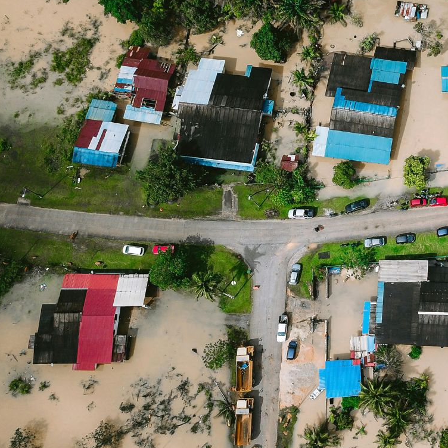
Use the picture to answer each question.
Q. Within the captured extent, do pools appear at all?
No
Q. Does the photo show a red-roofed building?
Yes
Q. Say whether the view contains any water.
Yes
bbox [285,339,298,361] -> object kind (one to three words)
vehicle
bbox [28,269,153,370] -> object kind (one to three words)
house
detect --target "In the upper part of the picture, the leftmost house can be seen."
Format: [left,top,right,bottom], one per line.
[73,99,133,168]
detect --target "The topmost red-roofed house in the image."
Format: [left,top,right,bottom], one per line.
[114,47,179,127]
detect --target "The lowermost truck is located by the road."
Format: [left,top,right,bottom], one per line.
[231,398,254,448]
